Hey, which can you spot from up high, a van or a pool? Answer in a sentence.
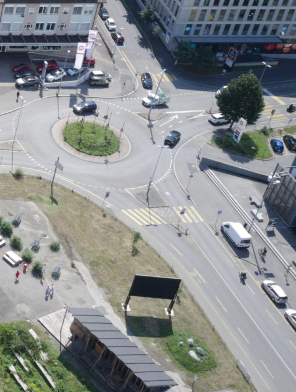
There is a van in the scene.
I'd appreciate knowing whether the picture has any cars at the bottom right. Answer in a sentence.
Yes, looking at the bottom right, one can make out a car.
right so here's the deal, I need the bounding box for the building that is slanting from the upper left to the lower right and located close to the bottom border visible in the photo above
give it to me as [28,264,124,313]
[30,302,172,392]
